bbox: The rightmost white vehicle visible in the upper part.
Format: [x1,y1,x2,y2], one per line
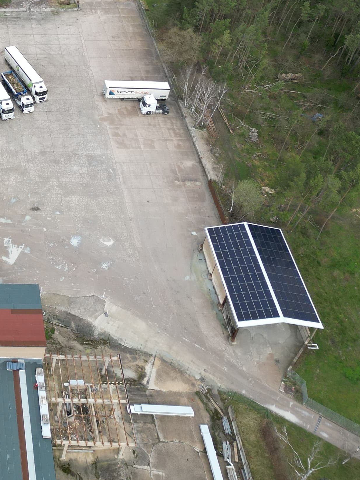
[140,94,171,114]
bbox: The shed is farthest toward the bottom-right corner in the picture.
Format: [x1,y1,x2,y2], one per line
[200,223,323,345]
